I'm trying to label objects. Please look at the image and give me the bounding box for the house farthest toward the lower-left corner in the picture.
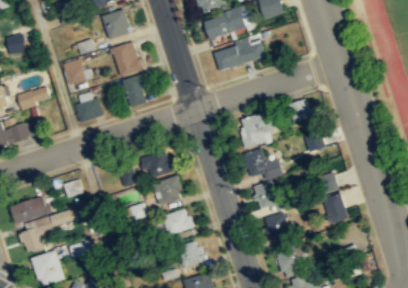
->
[31,250,67,284]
